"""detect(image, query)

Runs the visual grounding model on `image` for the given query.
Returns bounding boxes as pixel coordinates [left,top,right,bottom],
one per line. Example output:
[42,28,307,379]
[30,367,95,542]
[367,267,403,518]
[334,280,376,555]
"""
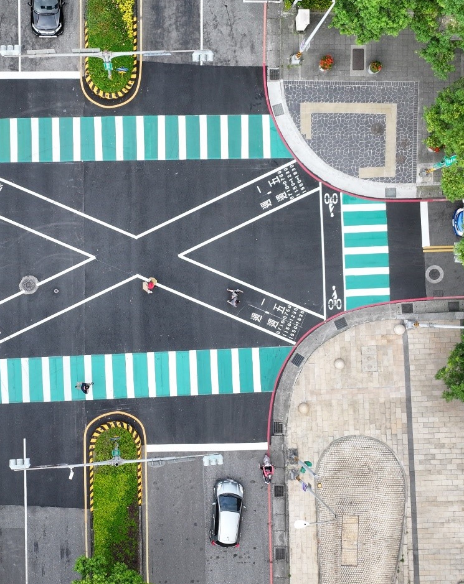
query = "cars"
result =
[209,475,246,549]
[453,208,464,235]
[28,0,67,35]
